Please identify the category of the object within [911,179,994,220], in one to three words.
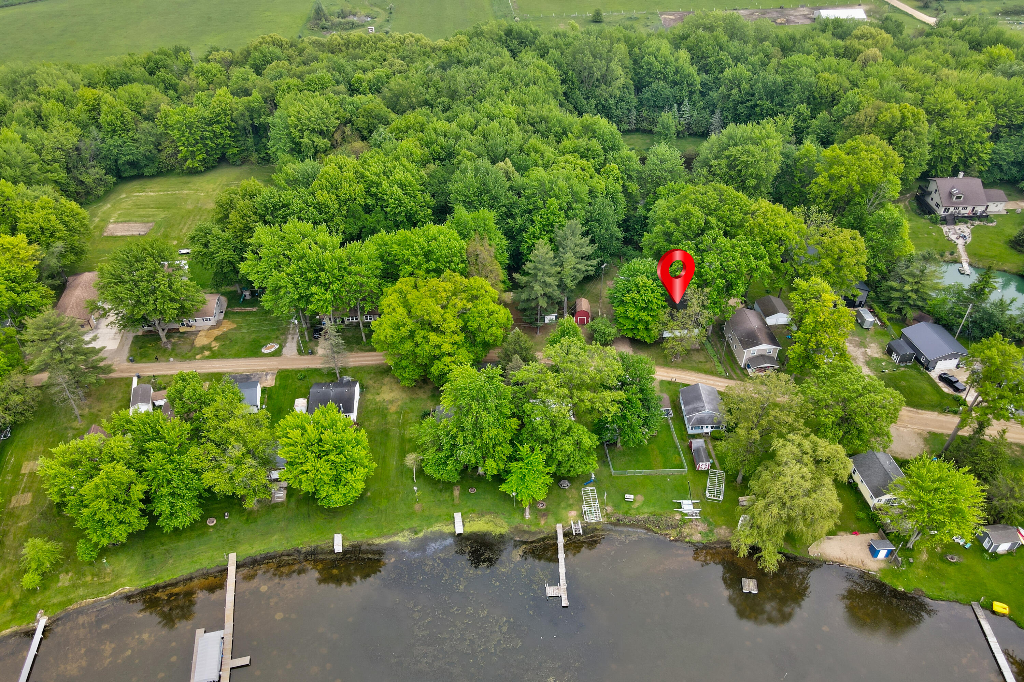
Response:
house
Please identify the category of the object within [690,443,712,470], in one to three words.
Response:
shed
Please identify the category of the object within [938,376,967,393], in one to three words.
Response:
vehicle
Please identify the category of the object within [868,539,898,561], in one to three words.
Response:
shed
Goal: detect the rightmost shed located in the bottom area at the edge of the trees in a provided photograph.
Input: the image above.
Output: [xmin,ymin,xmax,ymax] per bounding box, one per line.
[976,524,1023,553]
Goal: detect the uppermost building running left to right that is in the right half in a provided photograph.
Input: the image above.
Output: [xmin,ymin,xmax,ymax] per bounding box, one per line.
[810,9,869,22]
